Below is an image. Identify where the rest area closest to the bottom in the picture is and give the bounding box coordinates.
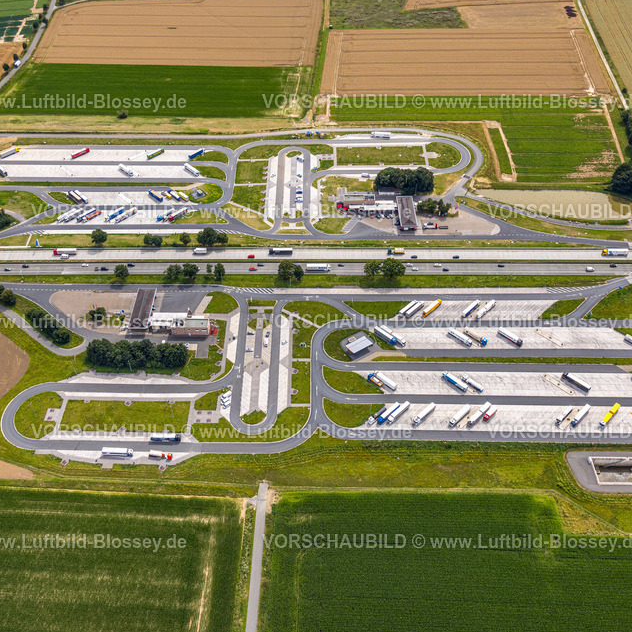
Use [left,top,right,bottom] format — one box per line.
[0,275,632,492]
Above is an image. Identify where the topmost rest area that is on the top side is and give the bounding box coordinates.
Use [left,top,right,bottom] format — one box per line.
[0,127,632,250]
